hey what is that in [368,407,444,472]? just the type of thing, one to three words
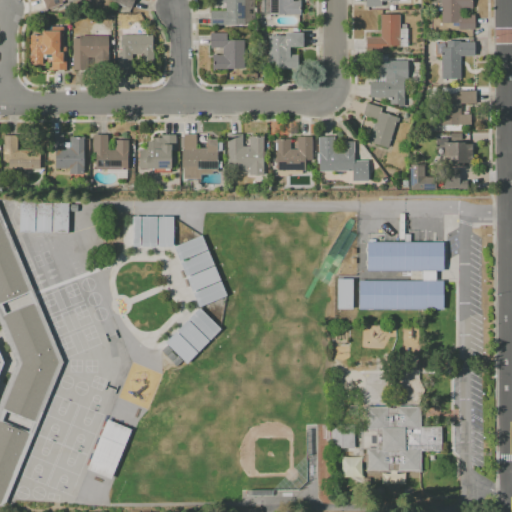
building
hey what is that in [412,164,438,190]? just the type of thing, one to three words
house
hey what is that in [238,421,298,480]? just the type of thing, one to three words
baseball field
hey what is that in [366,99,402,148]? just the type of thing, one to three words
house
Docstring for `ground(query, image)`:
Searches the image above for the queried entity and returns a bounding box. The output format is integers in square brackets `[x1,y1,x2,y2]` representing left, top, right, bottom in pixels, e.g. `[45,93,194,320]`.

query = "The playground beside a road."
[0,200,163,503]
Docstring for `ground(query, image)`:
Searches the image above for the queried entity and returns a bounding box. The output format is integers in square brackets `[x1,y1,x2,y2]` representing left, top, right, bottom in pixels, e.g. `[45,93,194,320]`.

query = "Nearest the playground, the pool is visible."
[94,172,118,184]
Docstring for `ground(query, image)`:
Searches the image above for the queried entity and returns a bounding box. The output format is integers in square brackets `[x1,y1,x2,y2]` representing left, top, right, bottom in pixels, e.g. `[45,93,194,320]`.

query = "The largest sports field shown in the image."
[110,212,333,502]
